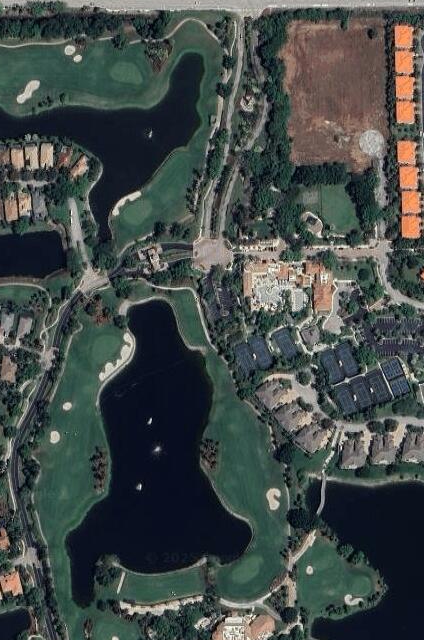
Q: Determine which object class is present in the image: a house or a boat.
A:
house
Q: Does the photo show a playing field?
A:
Yes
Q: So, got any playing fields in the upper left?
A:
No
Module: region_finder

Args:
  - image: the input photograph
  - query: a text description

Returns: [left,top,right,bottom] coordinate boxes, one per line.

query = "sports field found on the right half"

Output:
[297,181,357,235]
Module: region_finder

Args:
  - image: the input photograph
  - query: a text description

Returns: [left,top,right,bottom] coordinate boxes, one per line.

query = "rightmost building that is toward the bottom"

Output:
[404,432,424,459]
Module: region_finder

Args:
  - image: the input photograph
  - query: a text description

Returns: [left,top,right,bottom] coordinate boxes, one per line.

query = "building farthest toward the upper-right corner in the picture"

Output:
[397,24,414,47]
